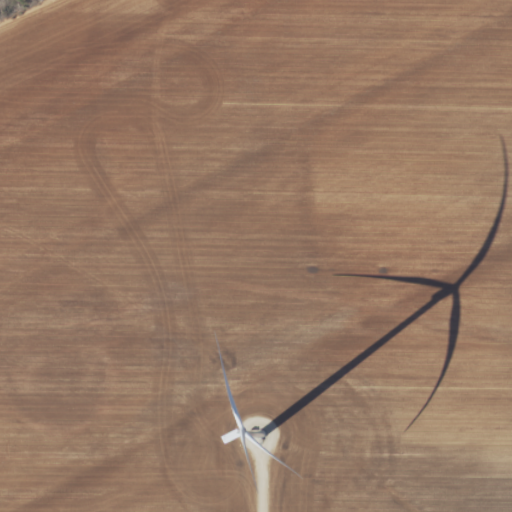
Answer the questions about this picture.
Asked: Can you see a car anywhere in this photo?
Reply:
No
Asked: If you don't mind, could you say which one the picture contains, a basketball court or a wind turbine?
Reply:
wind turbine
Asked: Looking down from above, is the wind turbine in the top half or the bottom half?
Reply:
bottom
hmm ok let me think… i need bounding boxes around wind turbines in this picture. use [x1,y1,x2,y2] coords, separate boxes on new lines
[213,328,317,490]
